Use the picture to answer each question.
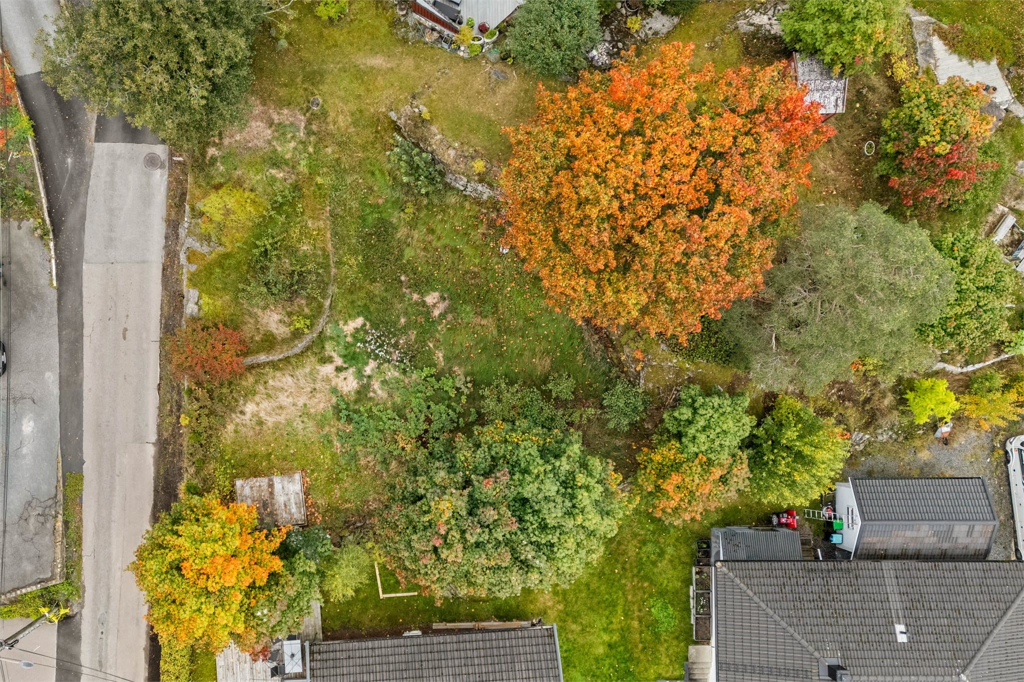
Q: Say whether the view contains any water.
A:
No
